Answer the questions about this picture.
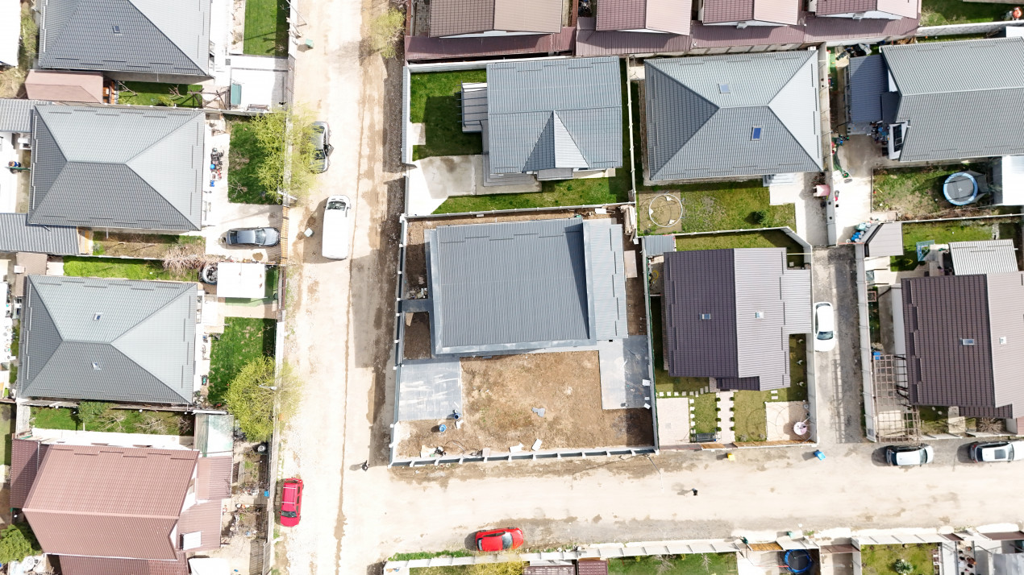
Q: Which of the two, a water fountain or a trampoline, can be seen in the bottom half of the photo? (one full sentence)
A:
The one visible in the bottom half of the photo is a trampoline.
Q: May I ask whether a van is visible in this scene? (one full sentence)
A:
Yes, I can see a van in this picture.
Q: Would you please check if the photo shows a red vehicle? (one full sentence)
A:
Yes, there's a red vehicle down there.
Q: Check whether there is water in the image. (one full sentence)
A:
No, there is no water in the image.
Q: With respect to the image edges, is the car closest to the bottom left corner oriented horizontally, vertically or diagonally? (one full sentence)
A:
The car closest to the bottom left corner is laid out vertically.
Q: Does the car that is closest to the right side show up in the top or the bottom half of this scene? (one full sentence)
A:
The car that is closest to the right side is in the bottom half of the image.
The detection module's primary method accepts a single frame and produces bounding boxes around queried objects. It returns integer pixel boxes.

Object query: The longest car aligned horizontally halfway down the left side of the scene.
[224,223,279,249]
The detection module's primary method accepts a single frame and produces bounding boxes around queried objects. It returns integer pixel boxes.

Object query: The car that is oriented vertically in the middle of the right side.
[815,301,837,351]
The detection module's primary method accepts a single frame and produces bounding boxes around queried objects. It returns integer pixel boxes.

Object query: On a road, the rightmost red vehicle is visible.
[476,526,524,553]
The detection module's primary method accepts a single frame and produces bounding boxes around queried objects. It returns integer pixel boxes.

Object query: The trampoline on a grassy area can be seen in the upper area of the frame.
[939,172,986,206]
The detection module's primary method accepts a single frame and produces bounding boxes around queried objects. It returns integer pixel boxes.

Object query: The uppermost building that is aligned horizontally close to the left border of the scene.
[38,0,222,79]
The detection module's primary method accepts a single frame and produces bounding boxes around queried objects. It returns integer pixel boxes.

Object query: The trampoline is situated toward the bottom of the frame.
[781,550,818,575]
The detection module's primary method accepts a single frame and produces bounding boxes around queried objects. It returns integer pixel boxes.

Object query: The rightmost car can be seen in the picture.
[967,438,1024,465]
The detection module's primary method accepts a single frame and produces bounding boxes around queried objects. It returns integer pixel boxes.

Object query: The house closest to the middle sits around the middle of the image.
[430,218,628,354]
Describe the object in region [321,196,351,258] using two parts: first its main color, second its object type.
white van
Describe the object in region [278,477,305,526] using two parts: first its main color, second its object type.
red car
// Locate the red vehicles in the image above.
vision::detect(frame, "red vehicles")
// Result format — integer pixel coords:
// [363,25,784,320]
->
[278,477,305,526]
[476,526,524,553]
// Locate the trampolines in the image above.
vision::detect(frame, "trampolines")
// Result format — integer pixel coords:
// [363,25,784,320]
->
[939,172,986,206]
[781,550,818,575]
